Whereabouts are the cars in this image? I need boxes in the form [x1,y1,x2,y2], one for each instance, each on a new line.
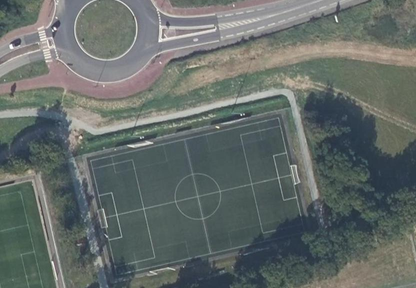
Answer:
[52,20,60,30]
[8,40,20,48]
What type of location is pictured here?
sports ground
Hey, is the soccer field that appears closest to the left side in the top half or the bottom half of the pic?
bottom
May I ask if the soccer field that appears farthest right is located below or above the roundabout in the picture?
below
